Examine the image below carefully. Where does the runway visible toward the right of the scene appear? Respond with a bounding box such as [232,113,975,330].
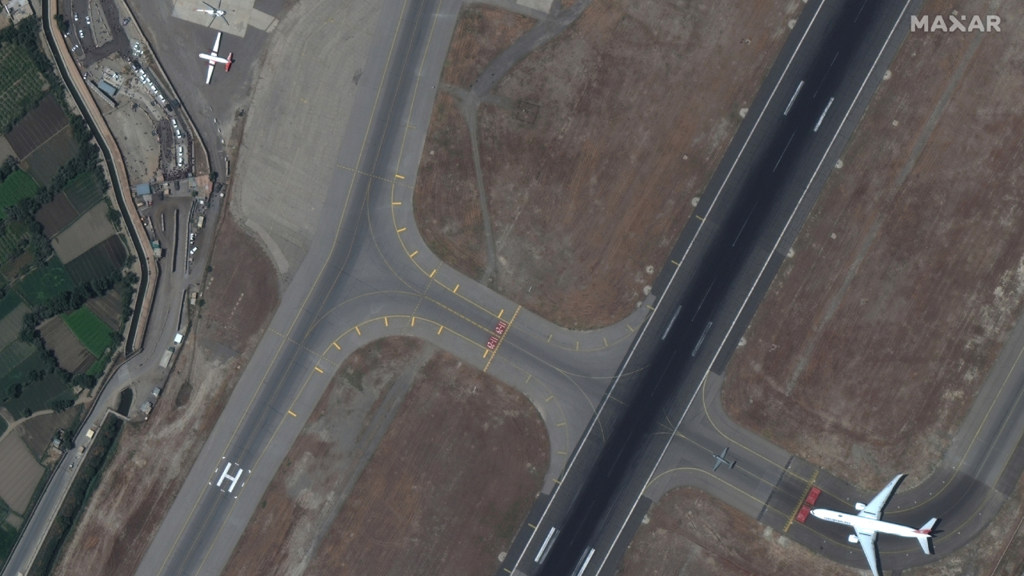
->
[504,0,911,576]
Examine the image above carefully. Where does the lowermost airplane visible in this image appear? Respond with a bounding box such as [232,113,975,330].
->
[810,475,938,576]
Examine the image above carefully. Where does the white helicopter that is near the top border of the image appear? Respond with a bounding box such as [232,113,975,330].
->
[194,0,234,28]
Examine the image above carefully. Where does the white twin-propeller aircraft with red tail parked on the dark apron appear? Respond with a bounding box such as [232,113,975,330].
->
[199,34,232,82]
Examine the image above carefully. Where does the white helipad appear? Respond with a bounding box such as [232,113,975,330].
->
[209,457,251,499]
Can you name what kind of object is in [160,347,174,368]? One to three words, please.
vehicle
